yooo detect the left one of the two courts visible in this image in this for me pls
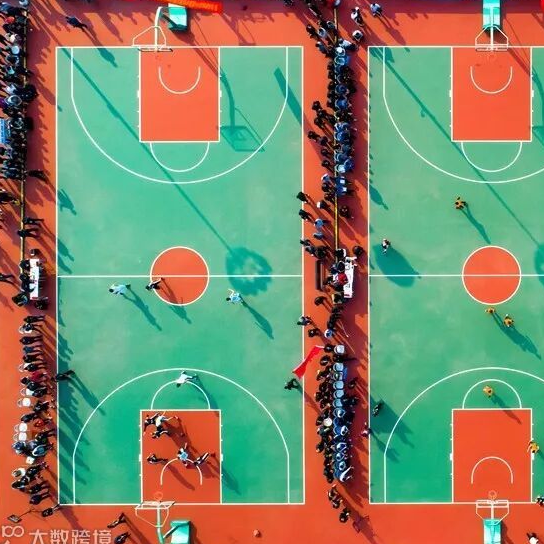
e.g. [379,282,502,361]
[55,46,305,506]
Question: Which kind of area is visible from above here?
sports ground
